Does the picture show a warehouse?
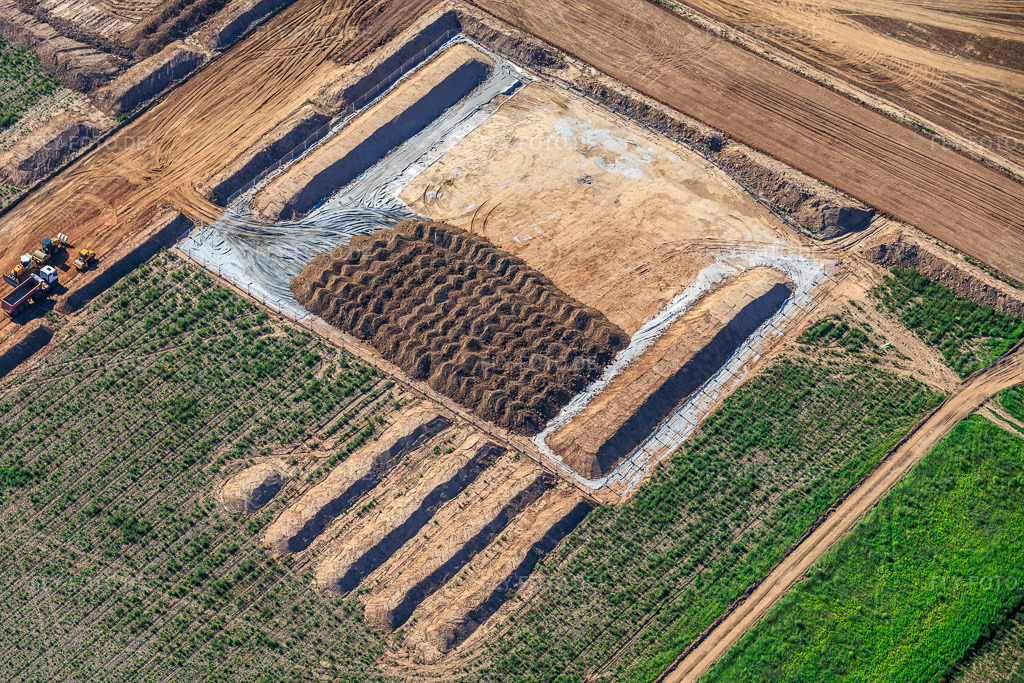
No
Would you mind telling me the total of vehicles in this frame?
4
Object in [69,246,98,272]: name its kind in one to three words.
work vehicle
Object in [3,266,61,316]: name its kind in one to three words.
truck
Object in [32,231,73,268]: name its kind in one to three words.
work vehicle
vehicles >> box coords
[2,252,42,288]
[69,246,98,272]
[32,231,73,268]
[3,266,61,316]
